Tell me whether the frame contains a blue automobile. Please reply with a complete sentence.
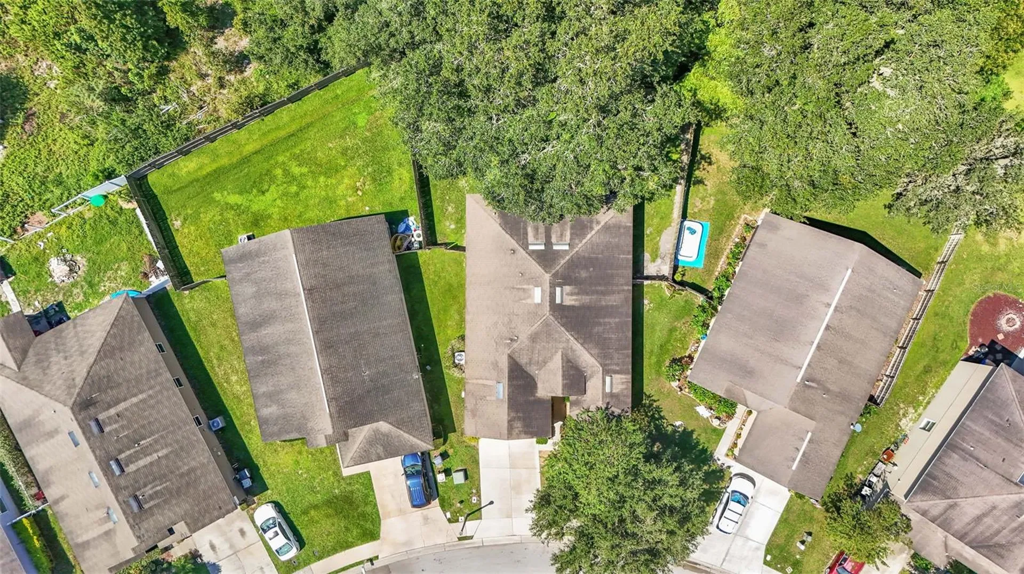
Yes, you can see a blue automobile in this photo.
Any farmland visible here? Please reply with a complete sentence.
No, the scene doesn't show any farmland.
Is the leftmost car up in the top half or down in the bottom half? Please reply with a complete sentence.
The leftmost car is in the bottom half of the image.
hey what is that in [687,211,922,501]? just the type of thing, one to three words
house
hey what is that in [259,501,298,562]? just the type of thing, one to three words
car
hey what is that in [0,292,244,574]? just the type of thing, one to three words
house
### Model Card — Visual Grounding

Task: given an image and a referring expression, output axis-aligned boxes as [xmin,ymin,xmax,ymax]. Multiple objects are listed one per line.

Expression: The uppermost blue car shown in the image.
[402,452,433,512]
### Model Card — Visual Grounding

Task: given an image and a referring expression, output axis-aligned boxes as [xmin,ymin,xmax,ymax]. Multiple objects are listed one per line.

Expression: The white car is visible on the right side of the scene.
[713,474,754,536]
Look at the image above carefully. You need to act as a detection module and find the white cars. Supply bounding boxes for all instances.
[259,501,298,562]
[713,474,754,536]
